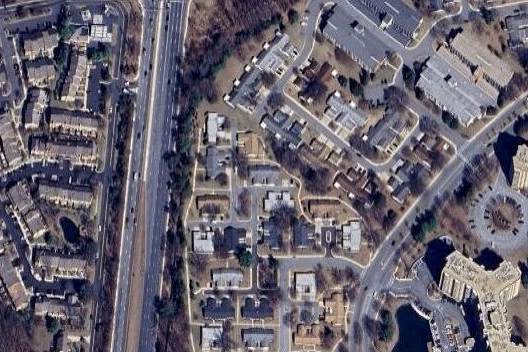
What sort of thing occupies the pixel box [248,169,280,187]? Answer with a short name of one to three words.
house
